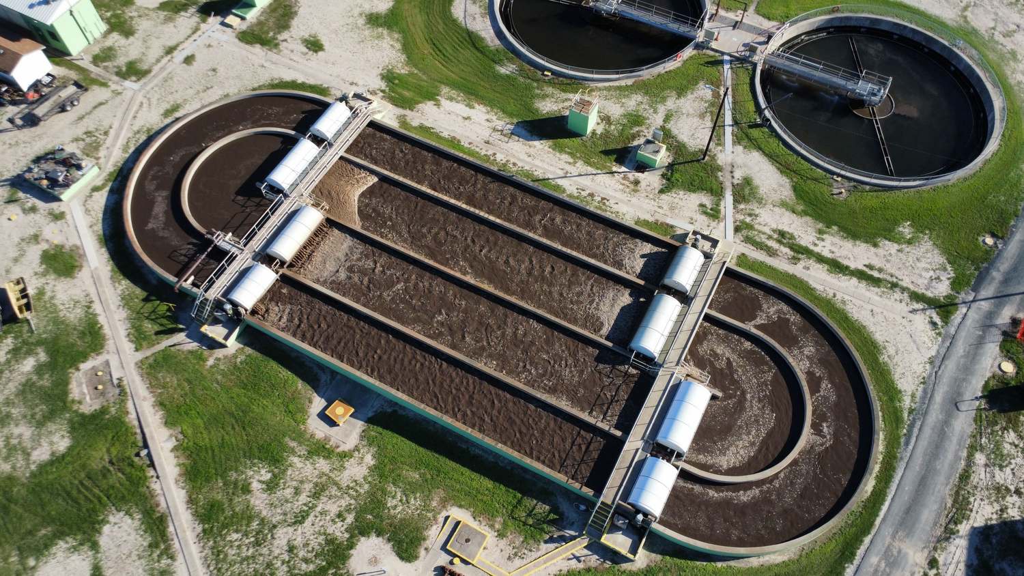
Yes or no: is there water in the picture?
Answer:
Yes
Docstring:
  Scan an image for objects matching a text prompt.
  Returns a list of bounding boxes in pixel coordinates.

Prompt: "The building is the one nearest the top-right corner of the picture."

[636,140,666,167]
